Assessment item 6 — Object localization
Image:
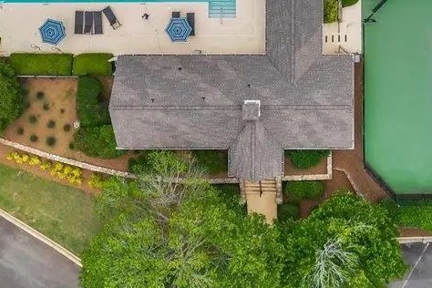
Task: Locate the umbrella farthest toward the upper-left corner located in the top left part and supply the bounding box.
[41,18,66,45]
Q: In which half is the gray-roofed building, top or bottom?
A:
top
